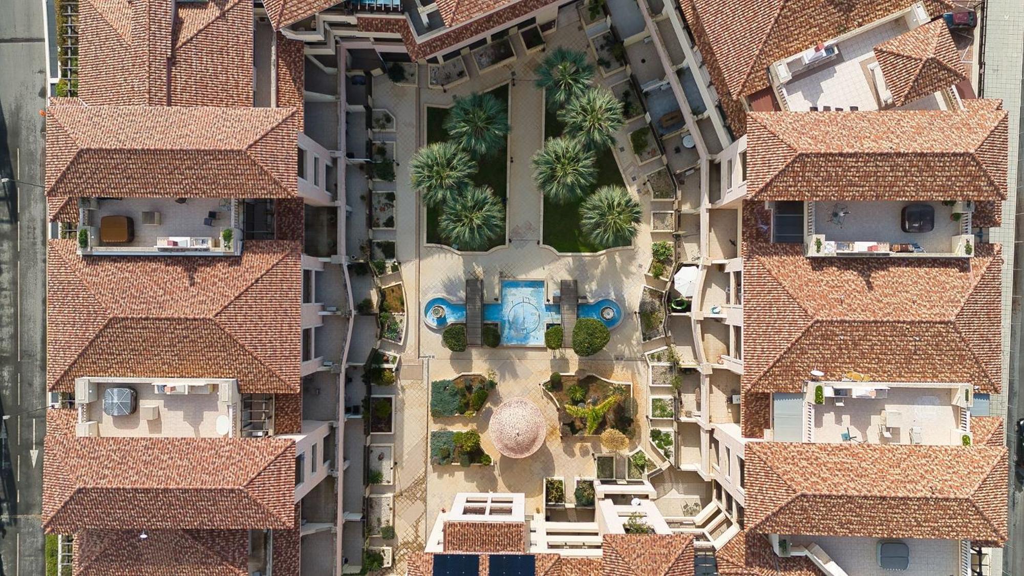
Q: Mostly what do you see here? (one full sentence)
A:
Most of the picture is covered by buildings.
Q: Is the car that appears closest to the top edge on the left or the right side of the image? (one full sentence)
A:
You can find the car that appears closest to the top edge on the right side of the picture.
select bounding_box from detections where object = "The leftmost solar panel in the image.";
[433,554,479,576]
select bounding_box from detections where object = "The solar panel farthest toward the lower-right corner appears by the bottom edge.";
[489,554,535,576]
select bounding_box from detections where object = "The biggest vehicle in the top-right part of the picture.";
[937,7,975,33]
